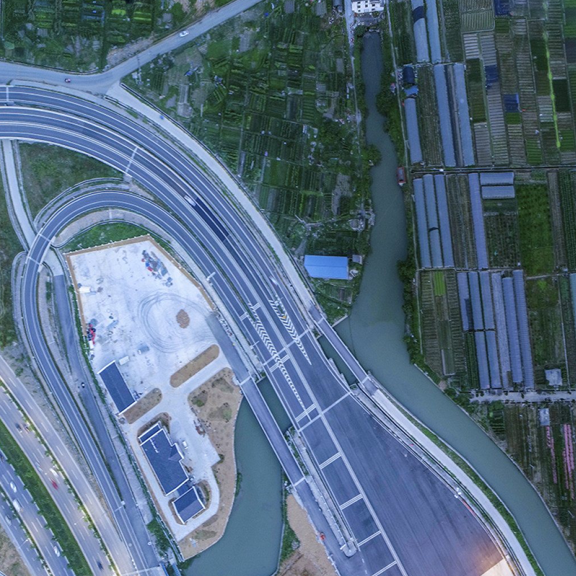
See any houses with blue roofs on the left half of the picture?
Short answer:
Yes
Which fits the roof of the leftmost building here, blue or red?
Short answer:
blue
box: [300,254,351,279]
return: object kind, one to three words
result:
shed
